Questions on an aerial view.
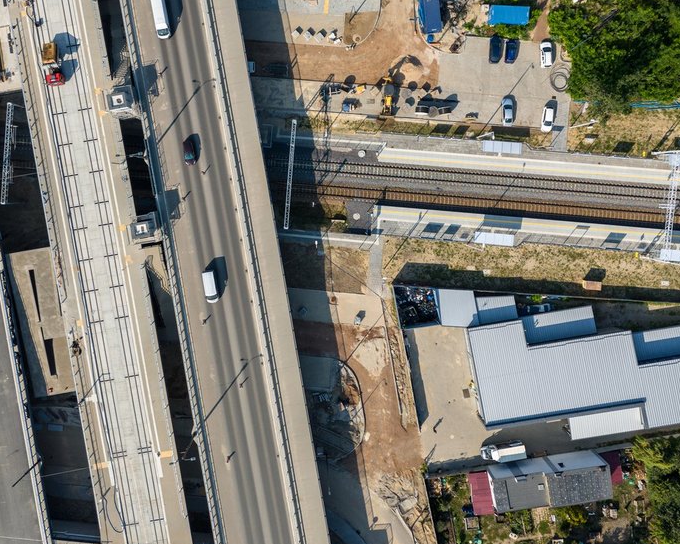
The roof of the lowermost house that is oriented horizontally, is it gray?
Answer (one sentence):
Yes, the roof of the lowermost house that is oriented horizontally is gray.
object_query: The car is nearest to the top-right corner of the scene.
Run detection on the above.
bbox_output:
[537,43,552,69]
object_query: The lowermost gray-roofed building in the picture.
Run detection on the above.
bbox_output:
[487,450,612,514]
